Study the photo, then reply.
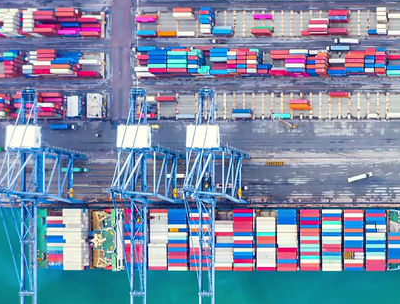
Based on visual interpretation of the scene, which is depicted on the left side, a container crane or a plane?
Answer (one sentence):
The one visible on the left side is a container crane.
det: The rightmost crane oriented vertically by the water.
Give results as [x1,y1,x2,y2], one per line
[181,87,254,304]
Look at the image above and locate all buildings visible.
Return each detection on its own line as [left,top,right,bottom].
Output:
[68,96,85,119]
[87,93,108,119]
